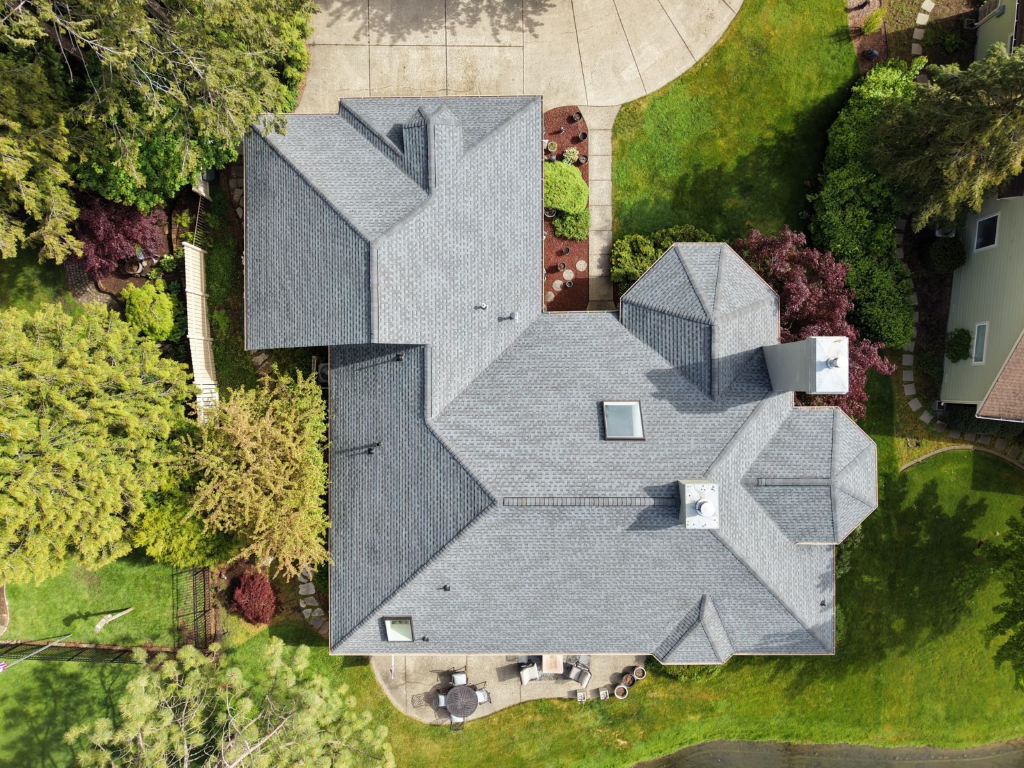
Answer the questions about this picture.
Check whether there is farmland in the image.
No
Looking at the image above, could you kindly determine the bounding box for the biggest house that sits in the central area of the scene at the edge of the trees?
[244,96,877,664]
